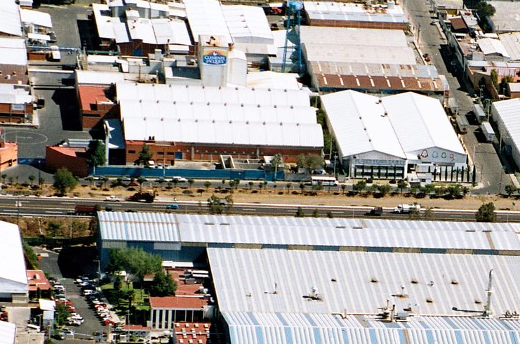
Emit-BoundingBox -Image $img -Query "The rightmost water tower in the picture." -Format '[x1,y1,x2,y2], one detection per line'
[282,0,304,74]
